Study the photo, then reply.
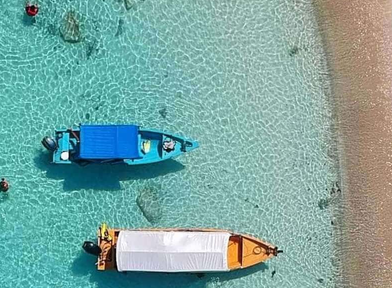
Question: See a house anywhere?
No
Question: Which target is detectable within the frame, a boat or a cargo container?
boat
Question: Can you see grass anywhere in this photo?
No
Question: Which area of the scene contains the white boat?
bottom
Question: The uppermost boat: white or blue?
blue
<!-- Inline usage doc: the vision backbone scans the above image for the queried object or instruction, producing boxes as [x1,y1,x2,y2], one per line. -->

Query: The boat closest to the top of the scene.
[40,126,199,164]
